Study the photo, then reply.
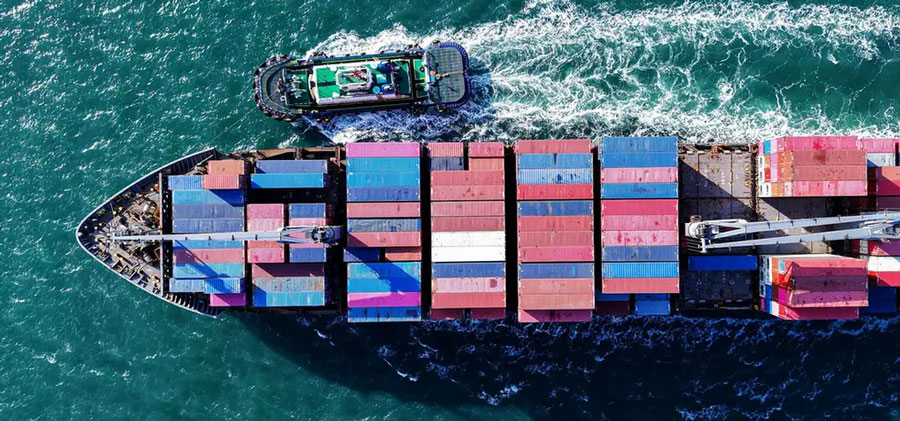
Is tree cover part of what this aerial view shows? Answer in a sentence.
No, there is no tree cover in the image.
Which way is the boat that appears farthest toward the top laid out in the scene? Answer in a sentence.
The boat that appears farthest toward the top is laid out from left to right.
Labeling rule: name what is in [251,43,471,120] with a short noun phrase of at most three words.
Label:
boat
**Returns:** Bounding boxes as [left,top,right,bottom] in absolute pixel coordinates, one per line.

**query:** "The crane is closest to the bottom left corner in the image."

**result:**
[106,224,348,251]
